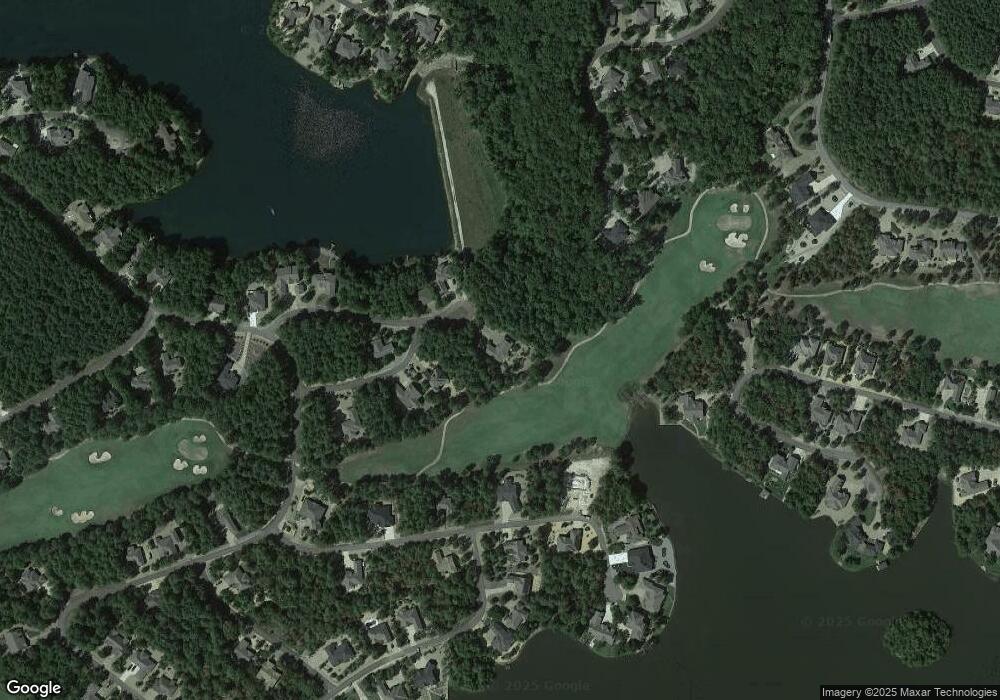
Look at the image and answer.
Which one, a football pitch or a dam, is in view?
dam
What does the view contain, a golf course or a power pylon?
golf course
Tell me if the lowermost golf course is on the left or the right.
left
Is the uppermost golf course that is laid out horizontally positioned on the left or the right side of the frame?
right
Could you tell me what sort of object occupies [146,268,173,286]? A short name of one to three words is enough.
house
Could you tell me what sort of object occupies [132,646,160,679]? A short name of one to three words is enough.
house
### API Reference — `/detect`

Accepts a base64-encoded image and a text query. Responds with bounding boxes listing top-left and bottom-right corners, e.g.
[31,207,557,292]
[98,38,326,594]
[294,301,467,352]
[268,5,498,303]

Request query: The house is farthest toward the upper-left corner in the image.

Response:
[9,75,29,99]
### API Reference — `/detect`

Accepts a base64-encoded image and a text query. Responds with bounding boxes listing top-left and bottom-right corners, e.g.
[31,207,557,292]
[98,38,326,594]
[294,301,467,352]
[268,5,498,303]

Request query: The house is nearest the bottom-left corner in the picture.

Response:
[4,631,27,653]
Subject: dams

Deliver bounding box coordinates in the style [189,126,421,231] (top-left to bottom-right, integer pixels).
[416,64,504,250]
